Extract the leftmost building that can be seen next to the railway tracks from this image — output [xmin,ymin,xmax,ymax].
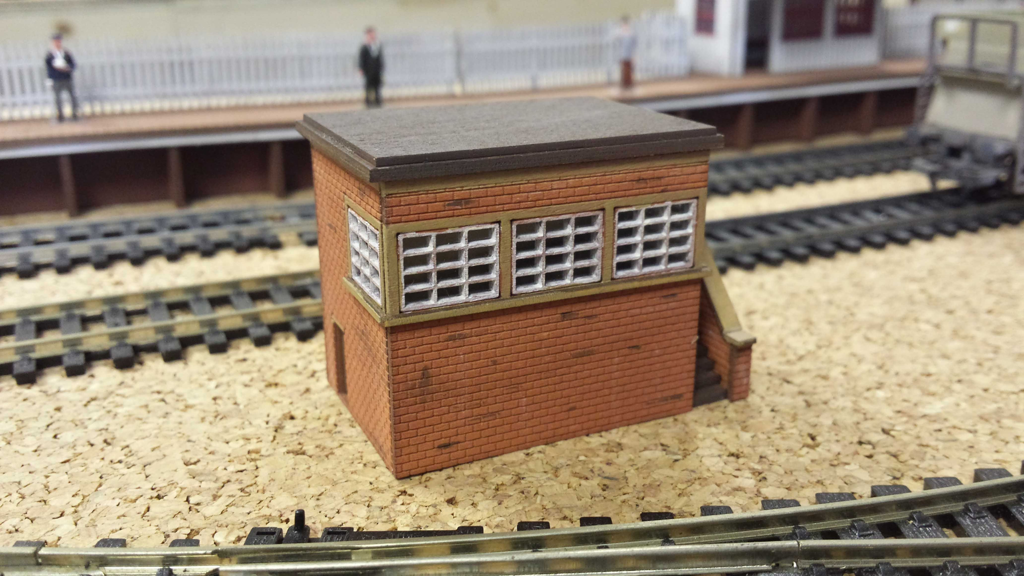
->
[299,98,742,477]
